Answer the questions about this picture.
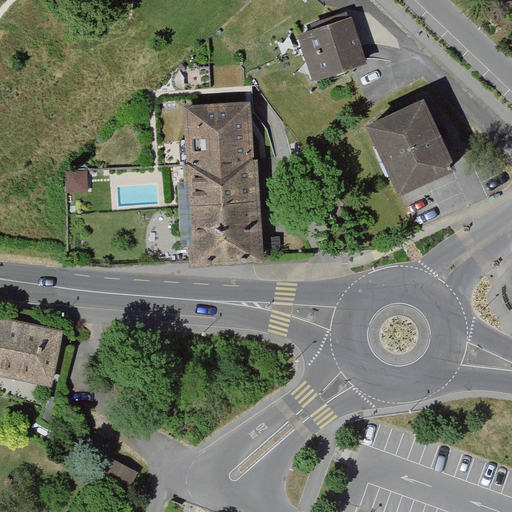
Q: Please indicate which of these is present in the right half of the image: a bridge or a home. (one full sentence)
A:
It is a home that can be seen in the right half of the image.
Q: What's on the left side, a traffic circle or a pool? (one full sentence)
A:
Looking on the left side, you will find a pool.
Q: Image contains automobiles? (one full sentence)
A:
Yes, you can see an automobile in this photo.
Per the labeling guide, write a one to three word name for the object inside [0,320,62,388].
house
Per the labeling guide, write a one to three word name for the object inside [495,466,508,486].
vehicle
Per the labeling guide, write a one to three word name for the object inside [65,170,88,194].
building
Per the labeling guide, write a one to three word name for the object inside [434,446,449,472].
car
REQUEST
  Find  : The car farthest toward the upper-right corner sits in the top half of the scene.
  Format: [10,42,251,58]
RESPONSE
[361,69,382,84]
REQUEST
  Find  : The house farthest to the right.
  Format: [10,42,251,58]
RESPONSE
[366,98,456,196]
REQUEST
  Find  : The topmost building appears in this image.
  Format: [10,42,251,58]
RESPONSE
[298,11,366,80]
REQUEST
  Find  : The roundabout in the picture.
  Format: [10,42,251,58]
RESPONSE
[328,264,470,405]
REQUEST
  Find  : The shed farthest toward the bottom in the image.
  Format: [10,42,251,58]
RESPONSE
[106,460,138,486]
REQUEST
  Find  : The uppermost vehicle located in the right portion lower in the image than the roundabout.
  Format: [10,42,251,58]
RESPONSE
[362,423,374,445]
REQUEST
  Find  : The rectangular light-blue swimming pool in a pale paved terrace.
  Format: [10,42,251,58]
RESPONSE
[110,170,164,210]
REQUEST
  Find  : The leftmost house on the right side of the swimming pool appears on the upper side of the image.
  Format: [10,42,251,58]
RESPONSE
[178,102,264,268]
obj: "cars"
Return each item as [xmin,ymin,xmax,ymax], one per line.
[460,454,472,473]
[486,173,510,190]
[482,462,496,486]
[38,277,56,287]
[196,306,216,316]
[434,446,449,472]
[362,423,374,445]
[361,69,382,84]
[407,198,426,214]
[416,208,439,224]
[495,466,508,486]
